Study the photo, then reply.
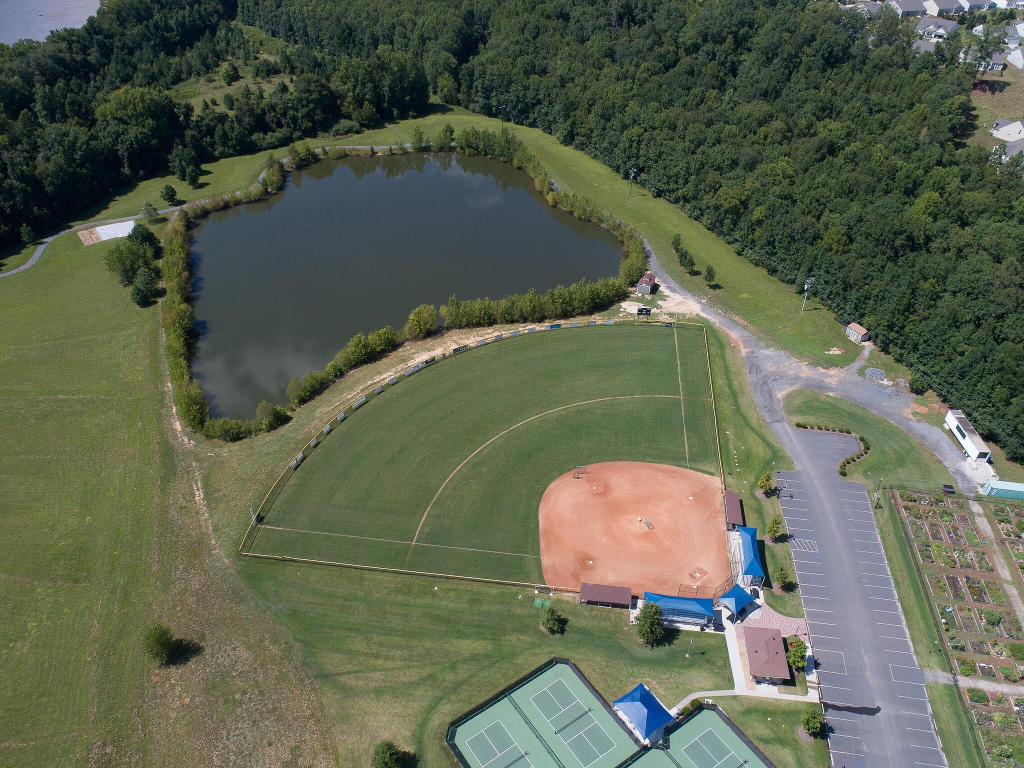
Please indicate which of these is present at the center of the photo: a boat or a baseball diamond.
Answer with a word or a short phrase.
baseball diamond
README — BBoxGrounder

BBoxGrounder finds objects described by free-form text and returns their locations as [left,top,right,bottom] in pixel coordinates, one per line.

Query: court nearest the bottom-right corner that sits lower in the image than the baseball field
[639,710,770,768]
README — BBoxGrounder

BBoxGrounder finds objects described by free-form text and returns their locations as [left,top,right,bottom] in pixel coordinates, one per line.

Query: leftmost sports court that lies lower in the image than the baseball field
[454,663,641,768]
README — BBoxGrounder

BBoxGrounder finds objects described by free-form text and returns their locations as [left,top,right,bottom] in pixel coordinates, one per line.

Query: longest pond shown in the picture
[193,153,623,425]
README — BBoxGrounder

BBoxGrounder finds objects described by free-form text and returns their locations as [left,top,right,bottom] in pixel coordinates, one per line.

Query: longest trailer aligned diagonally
[944,410,991,462]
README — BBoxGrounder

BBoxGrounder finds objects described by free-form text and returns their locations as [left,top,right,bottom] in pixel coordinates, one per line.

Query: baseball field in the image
[241,316,731,601]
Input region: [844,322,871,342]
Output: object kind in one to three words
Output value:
shed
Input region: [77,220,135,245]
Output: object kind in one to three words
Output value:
sports court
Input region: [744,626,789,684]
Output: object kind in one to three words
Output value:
building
